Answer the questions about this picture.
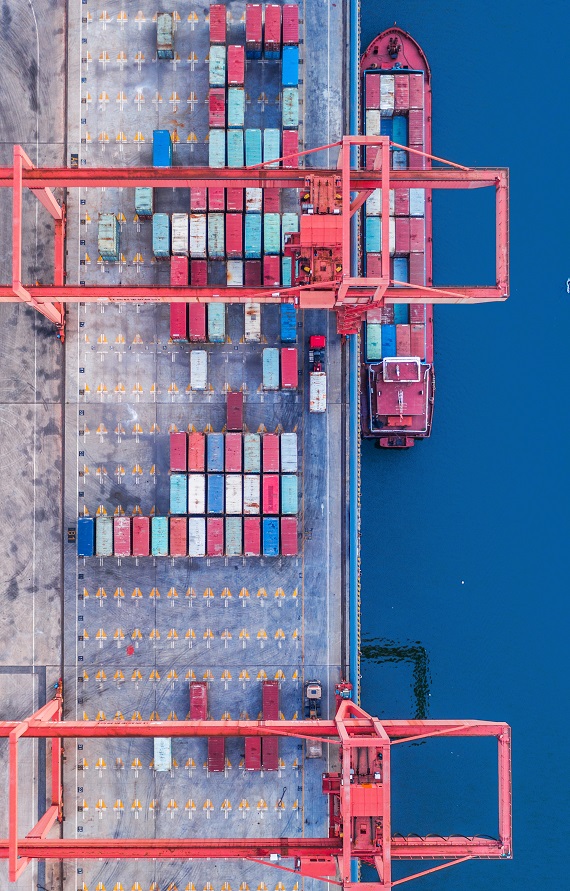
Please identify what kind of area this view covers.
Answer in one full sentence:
It's a port.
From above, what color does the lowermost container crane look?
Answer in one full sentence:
The lowermost container crane is red.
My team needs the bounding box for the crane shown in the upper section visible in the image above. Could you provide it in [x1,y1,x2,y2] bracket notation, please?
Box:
[0,141,510,350]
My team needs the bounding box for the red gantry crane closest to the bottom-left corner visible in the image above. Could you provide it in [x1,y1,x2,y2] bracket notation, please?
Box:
[0,669,513,889]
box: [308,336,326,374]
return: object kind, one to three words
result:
vehicle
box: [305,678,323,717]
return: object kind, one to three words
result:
vehicle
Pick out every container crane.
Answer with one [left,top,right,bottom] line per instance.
[0,141,510,350]
[0,669,513,889]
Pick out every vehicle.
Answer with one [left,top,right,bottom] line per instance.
[305,678,323,717]
[308,336,326,374]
